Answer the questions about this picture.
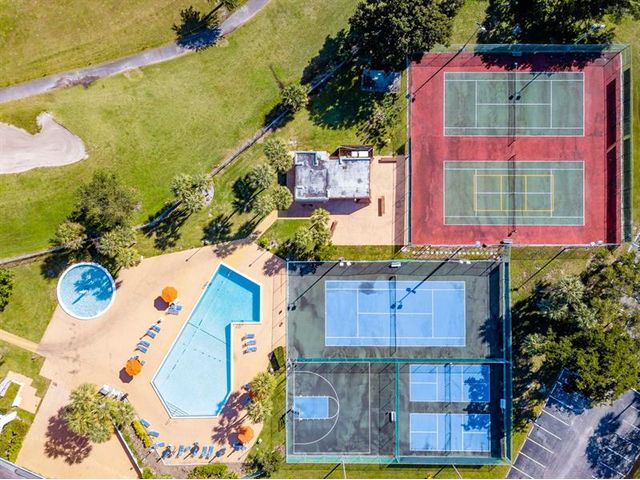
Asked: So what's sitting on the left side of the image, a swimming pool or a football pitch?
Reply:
swimming pool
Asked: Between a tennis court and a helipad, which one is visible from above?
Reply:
tennis court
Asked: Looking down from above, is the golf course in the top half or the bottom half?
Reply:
top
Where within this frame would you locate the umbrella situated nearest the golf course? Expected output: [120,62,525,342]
[161,286,178,302]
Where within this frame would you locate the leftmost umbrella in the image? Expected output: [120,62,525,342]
[125,358,142,375]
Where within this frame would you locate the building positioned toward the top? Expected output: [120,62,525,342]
[296,152,371,202]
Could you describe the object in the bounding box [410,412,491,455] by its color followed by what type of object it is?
blue sports court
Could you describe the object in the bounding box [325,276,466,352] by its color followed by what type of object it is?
blue tennis court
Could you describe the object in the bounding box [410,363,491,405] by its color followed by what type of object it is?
blue sports court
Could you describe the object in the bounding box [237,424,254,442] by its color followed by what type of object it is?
orange umbrella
